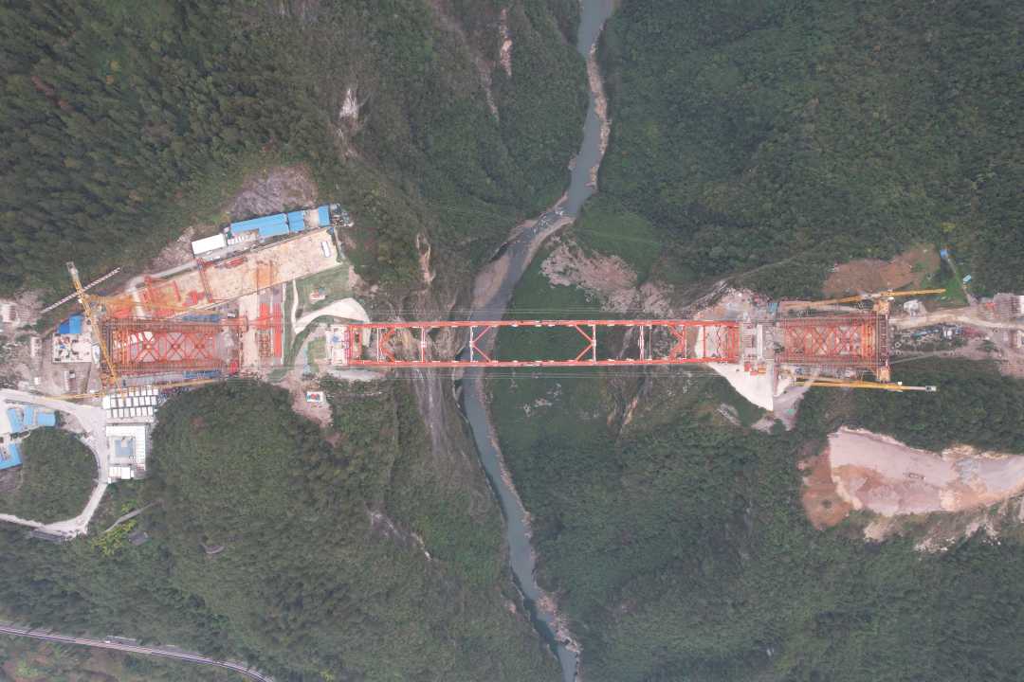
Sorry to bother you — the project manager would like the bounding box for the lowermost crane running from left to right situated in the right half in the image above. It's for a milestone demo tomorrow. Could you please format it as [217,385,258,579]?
[782,370,937,393]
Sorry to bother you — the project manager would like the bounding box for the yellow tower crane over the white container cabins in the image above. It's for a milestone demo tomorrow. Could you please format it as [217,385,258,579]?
[45,371,230,402]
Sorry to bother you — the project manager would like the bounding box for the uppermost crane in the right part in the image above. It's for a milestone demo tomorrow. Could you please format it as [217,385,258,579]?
[776,288,947,313]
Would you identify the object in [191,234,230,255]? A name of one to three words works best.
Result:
shed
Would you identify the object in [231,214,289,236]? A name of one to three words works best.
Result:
shed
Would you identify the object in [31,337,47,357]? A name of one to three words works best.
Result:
house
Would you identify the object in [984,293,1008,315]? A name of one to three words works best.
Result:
building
